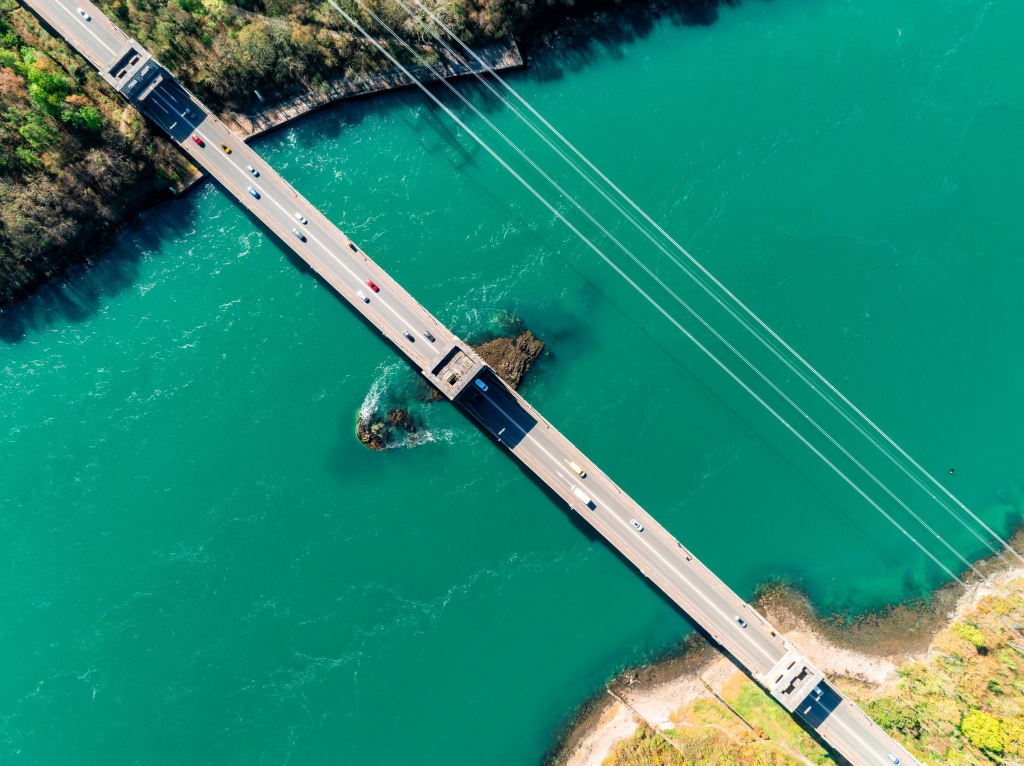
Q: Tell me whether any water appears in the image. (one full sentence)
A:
Yes, water shows up in the scene.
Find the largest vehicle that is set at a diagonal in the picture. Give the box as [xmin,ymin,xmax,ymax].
[571,486,592,507]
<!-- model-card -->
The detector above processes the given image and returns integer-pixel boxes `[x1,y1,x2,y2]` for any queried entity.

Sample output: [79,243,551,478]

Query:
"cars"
[246,164,259,177]
[292,228,306,241]
[247,186,260,198]
[422,329,435,341]
[472,392,485,404]
[357,290,370,302]
[812,687,822,697]
[192,134,204,146]
[184,107,197,120]
[474,378,488,391]
[630,519,643,531]
[294,211,307,223]
[734,616,747,628]
[402,329,415,341]
[887,753,900,765]
[219,141,232,154]
[366,279,379,291]
[78,8,91,21]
